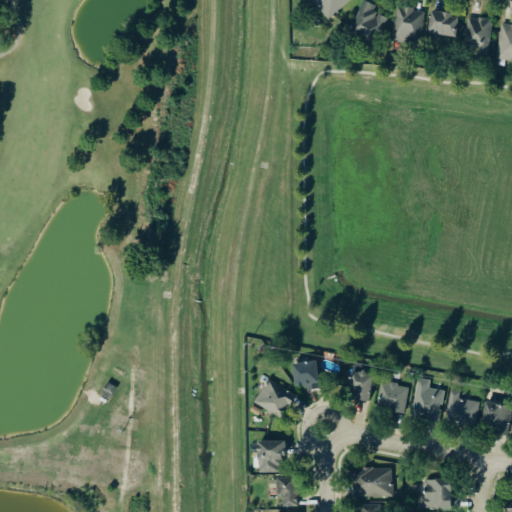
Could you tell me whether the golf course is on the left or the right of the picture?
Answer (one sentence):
You can find the golf course on the left side of the picture.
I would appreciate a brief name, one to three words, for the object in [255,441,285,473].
house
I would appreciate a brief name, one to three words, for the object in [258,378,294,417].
house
